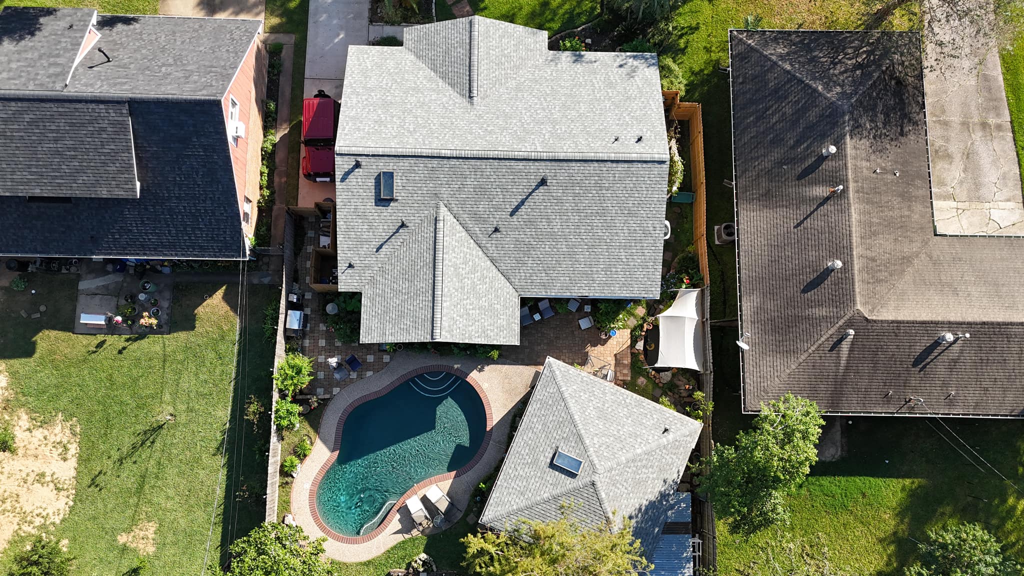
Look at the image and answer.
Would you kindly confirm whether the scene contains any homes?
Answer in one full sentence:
Yes, a home is visible in the scene.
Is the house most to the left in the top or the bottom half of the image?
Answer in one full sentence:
The house most to the left sits in the top half of the picture.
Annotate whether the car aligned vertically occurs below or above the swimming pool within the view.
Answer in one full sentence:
In the image, the car aligned vertically sits above the swimming pool.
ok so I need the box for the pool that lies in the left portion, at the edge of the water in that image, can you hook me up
[309,364,494,545]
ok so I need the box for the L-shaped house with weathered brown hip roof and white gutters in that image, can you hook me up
[710,27,1024,417]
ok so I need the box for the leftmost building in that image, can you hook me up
[0,10,271,261]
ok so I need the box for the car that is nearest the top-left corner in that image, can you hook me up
[297,90,341,180]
